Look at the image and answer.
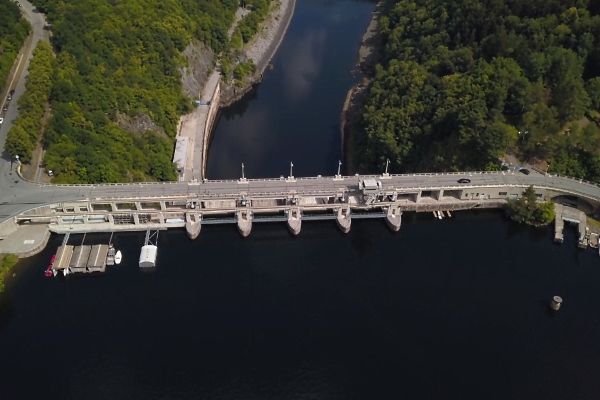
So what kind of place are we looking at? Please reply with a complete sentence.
This image shows a port.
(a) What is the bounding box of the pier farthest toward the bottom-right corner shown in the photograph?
[551,206,589,250]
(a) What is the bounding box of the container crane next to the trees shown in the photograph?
[357,180,383,205]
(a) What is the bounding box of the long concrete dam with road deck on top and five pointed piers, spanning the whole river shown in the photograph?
[16,173,600,239]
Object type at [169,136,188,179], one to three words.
building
